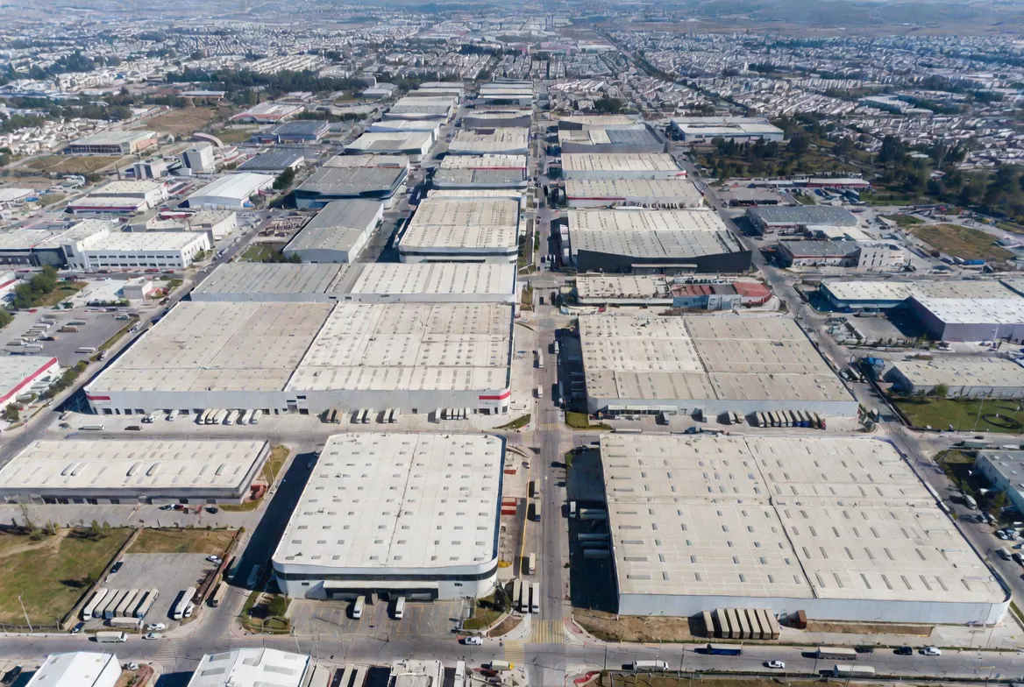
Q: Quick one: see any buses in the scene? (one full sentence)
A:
Yes, the picture does show a bus.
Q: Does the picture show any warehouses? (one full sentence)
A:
Yes, the image includes a warehouse.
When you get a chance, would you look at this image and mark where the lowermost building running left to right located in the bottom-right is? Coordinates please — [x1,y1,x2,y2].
[596,435,1005,621]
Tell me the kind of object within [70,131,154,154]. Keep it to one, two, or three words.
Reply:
building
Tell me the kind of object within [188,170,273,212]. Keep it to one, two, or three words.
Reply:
hangar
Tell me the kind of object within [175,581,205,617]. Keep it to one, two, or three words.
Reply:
bus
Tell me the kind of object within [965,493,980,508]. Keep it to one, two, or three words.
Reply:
vehicle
